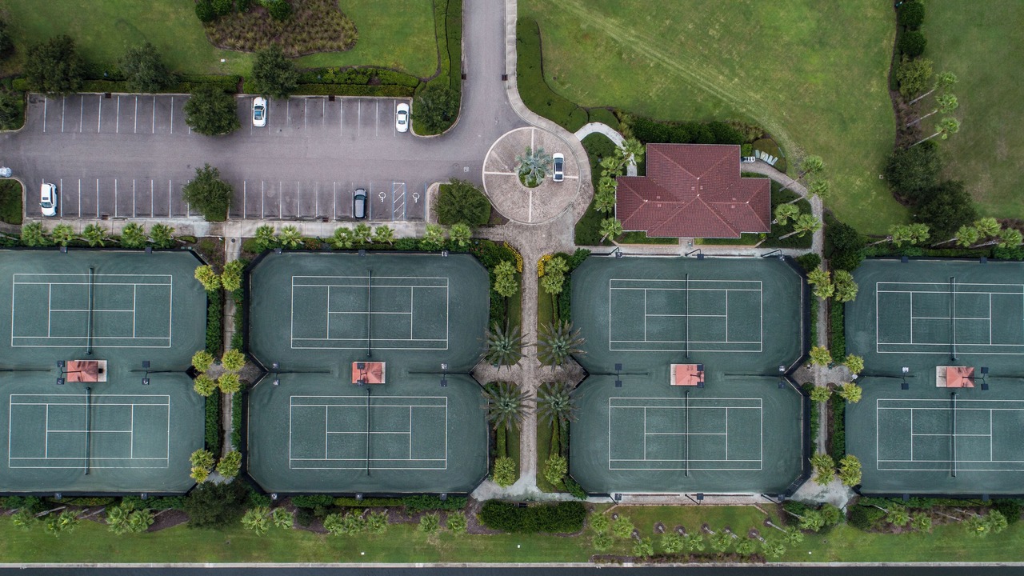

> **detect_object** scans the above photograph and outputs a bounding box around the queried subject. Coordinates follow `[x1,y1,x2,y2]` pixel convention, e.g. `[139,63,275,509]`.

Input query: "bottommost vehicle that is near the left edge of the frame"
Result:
[40,184,59,216]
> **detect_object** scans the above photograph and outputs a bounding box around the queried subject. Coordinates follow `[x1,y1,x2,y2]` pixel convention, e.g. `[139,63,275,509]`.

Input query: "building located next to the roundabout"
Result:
[615,143,771,239]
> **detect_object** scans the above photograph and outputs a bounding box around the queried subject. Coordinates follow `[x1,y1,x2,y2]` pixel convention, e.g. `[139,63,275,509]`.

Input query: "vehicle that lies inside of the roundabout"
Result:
[551,153,565,182]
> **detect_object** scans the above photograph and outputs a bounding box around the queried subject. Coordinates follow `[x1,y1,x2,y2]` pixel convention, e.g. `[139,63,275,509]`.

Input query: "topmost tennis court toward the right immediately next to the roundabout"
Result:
[573,256,803,374]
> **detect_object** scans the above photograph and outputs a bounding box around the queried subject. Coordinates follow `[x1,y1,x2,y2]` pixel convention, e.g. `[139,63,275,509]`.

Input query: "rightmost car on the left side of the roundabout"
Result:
[395,104,409,133]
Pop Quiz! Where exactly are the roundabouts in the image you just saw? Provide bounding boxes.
[478,123,583,227]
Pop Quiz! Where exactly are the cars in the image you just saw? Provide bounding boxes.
[395,104,409,133]
[353,189,368,219]
[0,166,12,179]
[551,153,565,182]
[252,98,268,128]
[40,184,59,216]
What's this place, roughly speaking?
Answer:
sports ground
